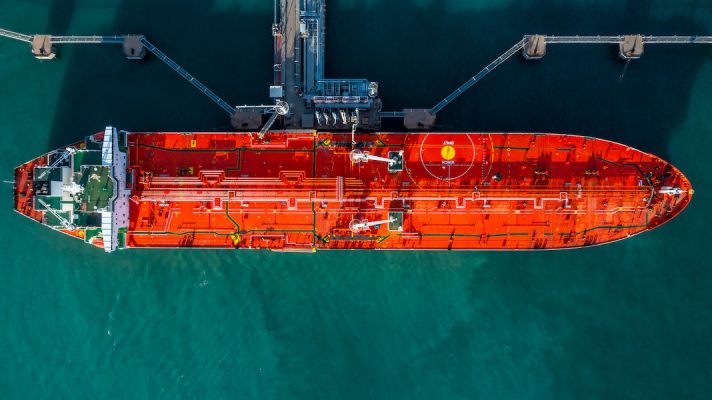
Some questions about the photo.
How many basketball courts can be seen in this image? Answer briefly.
none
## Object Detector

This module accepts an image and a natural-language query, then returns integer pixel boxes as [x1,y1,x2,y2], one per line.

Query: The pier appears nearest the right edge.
[273,0,382,132]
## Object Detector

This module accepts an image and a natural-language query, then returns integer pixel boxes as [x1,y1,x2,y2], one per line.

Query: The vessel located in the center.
[1,127,696,252]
